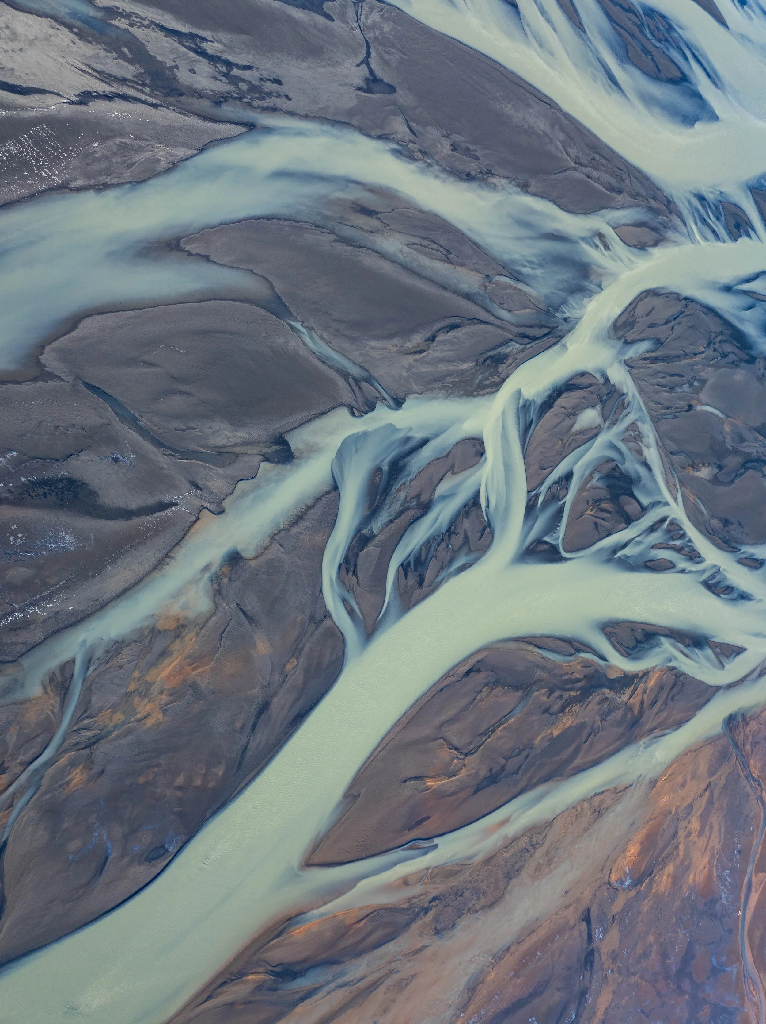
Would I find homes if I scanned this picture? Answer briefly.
No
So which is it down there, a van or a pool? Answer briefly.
pool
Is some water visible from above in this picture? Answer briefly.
Yes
